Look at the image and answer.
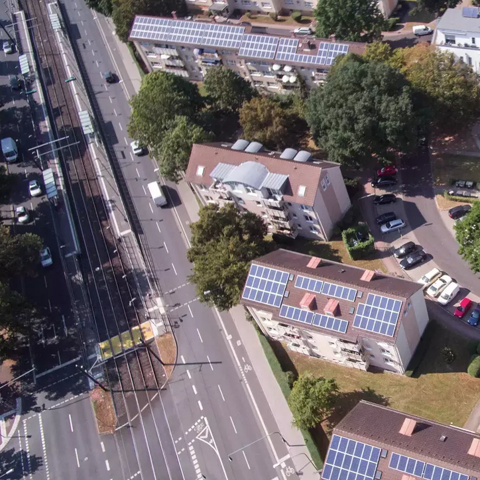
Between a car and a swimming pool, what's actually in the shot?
car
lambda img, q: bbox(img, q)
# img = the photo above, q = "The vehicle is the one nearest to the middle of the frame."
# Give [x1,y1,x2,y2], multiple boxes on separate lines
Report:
[146,179,168,207]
